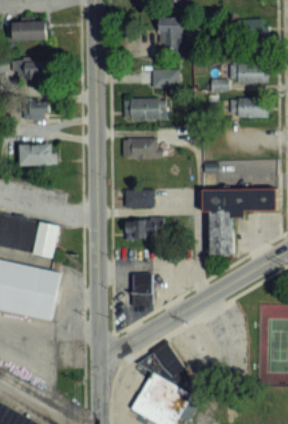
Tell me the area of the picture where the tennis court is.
bottom right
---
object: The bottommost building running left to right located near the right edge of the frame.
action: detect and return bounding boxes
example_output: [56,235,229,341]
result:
[200,188,276,217]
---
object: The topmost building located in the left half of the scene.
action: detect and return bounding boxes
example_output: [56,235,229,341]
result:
[12,18,48,40]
